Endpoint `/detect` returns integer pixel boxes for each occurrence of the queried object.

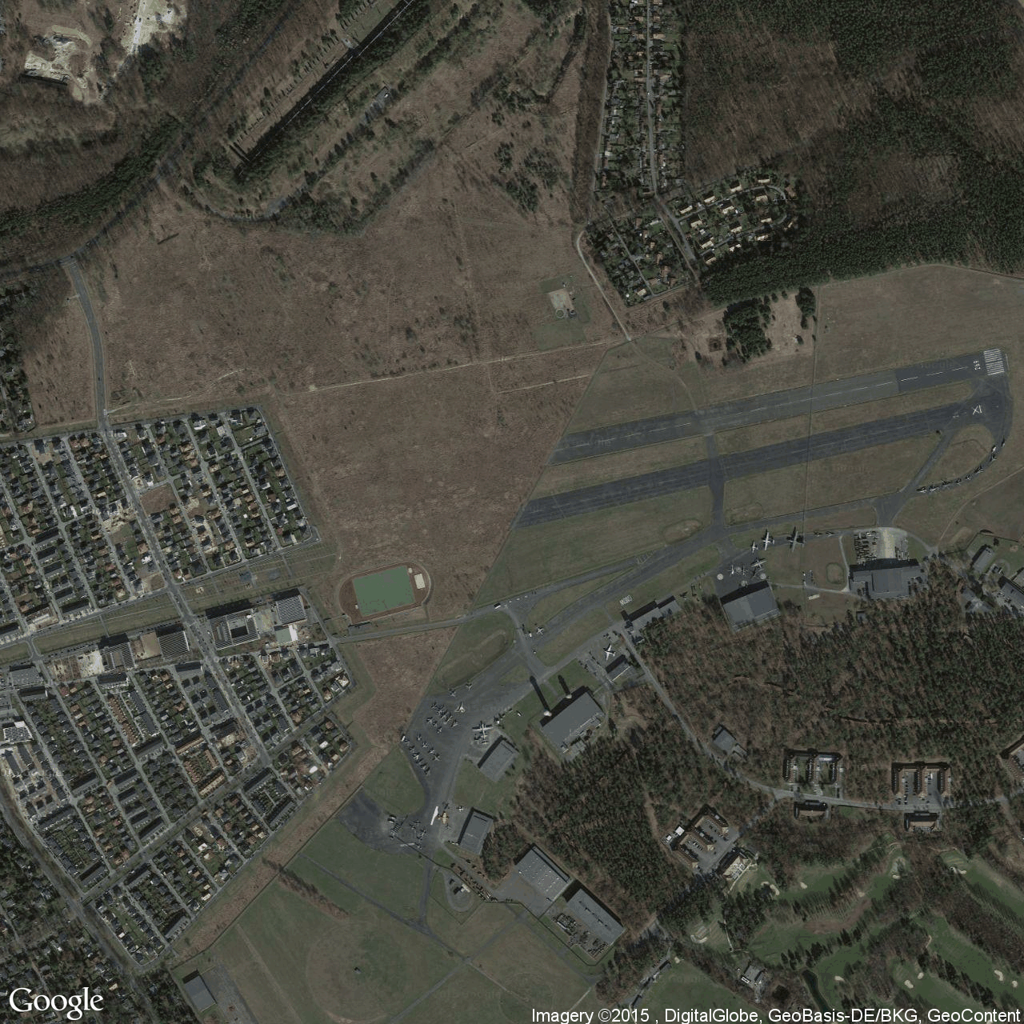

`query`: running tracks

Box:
[339,562,430,625]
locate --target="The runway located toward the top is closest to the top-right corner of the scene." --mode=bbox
[896,348,1009,392]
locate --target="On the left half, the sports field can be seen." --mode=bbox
[337,560,433,637]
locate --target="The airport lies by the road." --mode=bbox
[299,348,1014,1024]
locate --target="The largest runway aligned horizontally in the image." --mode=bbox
[513,390,1013,529]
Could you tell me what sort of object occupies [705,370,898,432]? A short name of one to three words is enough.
runway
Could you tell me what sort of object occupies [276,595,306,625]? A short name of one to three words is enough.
building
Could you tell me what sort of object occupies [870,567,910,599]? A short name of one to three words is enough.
hangar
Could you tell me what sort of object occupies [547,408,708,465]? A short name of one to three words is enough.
runway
